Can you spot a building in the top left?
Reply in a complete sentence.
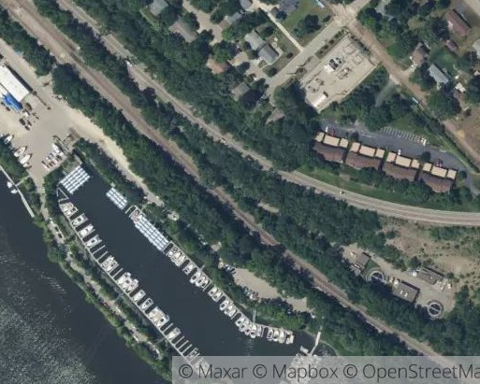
Yes, a building appears in the top left.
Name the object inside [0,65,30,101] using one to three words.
building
